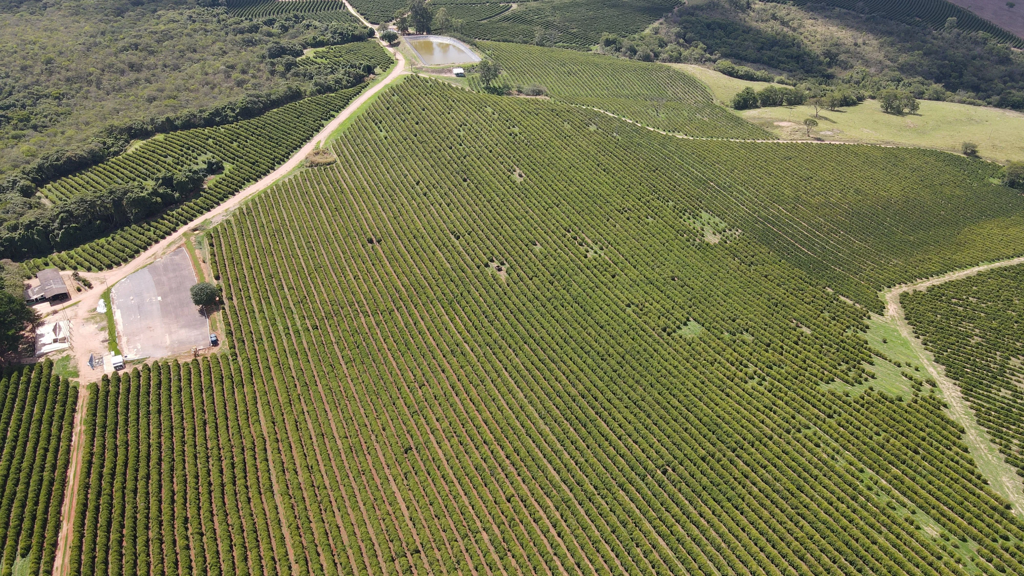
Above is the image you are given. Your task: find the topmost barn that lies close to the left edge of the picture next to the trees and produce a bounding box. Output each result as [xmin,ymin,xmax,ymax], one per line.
[21,266,69,310]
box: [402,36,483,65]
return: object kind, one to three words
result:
pond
